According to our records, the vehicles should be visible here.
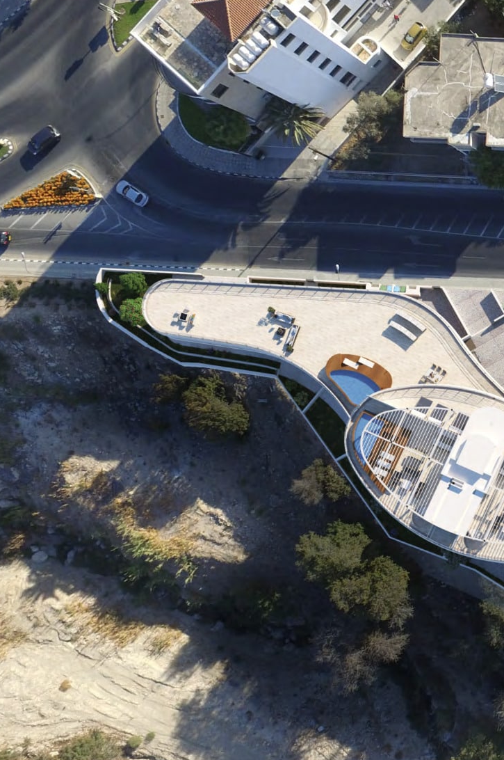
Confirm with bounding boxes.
[0,232,10,244]
[403,20,426,52]
[28,125,61,154]
[115,179,149,208]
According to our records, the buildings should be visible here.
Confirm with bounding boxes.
[404,34,504,155]
[129,0,417,132]
[142,278,504,564]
